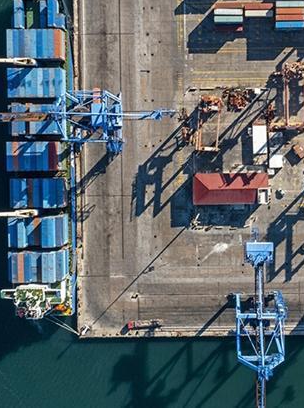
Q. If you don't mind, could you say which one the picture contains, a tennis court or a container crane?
container crane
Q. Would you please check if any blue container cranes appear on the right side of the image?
Yes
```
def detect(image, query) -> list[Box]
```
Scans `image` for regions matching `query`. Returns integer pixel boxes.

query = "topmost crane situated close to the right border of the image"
[263,62,304,133]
